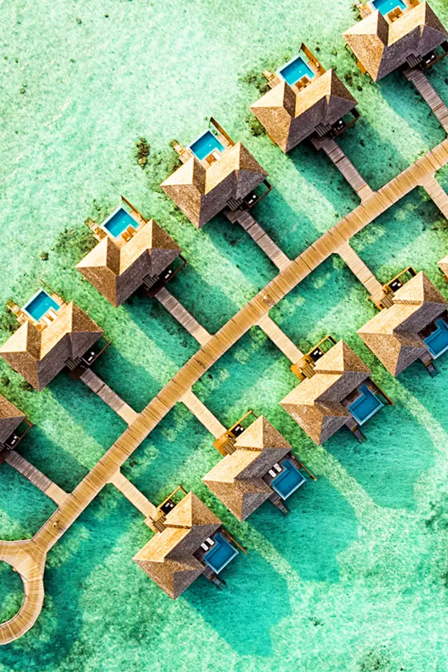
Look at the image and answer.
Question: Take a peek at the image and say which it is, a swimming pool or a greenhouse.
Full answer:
I can see a swimming pool in this picture.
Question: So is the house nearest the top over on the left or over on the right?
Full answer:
The house nearest the top sits on the right side.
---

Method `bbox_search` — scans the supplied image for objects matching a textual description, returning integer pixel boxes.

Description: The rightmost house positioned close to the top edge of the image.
[343,0,448,91]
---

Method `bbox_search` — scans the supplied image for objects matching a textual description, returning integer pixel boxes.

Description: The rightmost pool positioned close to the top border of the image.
[366,0,408,19]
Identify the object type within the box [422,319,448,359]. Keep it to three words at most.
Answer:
swimming pool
